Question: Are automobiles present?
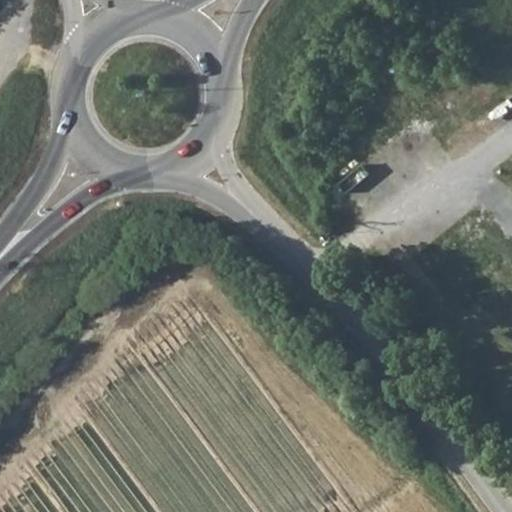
Yes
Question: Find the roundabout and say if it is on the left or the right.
left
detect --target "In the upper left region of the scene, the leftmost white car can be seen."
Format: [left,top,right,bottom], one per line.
[57,110,72,134]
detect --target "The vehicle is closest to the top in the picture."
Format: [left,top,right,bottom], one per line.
[197,52,210,74]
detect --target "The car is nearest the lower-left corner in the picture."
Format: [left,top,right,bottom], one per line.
[2,258,20,274]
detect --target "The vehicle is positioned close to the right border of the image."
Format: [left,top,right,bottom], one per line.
[488,92,512,118]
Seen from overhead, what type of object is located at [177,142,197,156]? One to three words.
car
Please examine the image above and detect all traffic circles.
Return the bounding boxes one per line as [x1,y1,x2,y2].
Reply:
[51,0,242,192]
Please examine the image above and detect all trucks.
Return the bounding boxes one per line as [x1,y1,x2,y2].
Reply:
[336,163,370,193]
[488,92,512,118]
